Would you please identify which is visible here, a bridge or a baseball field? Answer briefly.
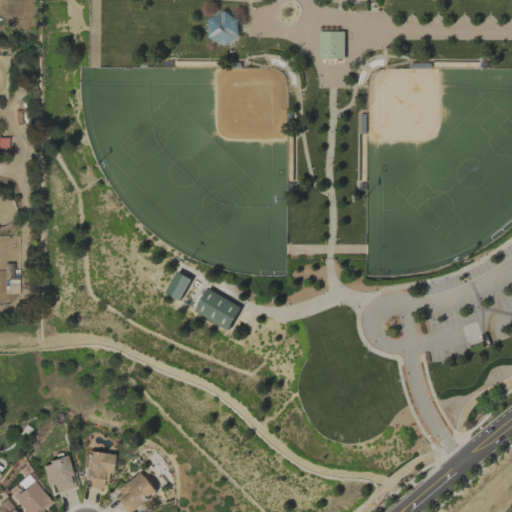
baseball field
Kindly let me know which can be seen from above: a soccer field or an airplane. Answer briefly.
soccer field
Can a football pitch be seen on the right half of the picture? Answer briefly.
Yes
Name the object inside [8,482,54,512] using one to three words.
house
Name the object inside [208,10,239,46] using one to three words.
building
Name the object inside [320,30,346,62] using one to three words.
building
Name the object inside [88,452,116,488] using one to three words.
house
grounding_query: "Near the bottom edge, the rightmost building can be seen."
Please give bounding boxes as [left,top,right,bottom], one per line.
[119,474,156,512]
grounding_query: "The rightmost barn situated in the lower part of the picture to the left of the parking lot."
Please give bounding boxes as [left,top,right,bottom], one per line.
[196,288,241,329]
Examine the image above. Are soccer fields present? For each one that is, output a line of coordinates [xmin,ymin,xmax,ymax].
[110,98,259,246]
[396,98,512,246]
